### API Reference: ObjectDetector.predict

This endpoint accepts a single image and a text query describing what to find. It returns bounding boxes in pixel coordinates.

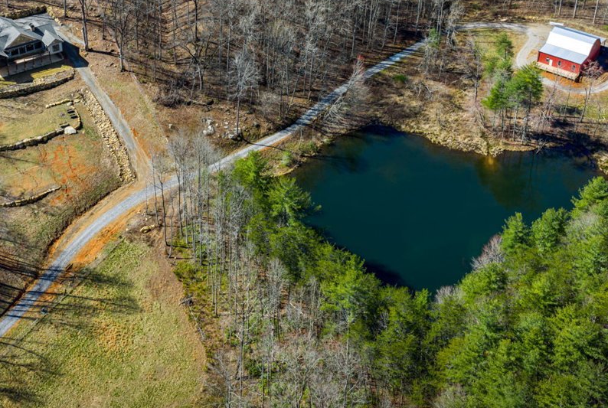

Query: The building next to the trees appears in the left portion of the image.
[0,13,65,78]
